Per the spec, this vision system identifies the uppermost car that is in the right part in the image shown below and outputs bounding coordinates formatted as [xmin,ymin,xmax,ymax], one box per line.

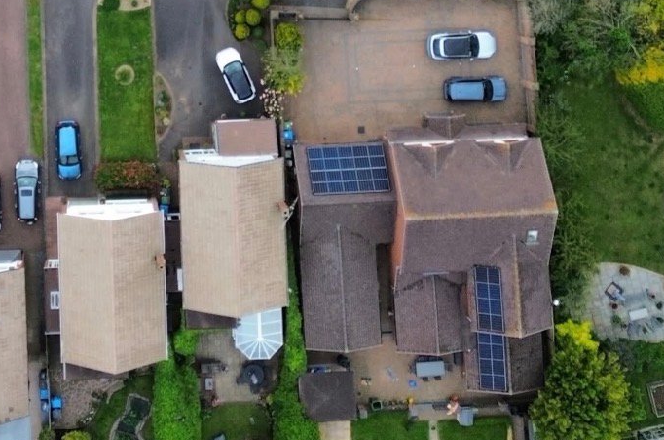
[425,29,495,63]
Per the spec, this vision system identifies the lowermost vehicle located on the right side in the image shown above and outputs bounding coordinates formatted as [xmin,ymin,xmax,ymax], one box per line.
[442,74,507,106]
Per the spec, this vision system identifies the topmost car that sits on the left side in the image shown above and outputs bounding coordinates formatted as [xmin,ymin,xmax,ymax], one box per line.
[218,45,255,106]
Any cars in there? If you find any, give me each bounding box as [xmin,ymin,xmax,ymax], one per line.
[425,29,495,63]
[53,119,85,179]
[10,159,42,224]
[218,45,255,106]
[442,74,507,106]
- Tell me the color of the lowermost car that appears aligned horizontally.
blue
